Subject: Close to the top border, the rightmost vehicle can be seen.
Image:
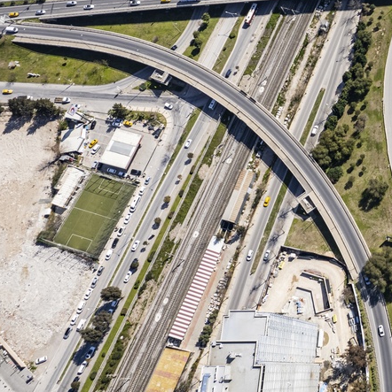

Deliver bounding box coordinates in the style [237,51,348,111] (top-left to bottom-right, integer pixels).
[244,2,261,27]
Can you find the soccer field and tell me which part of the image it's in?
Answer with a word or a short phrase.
left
